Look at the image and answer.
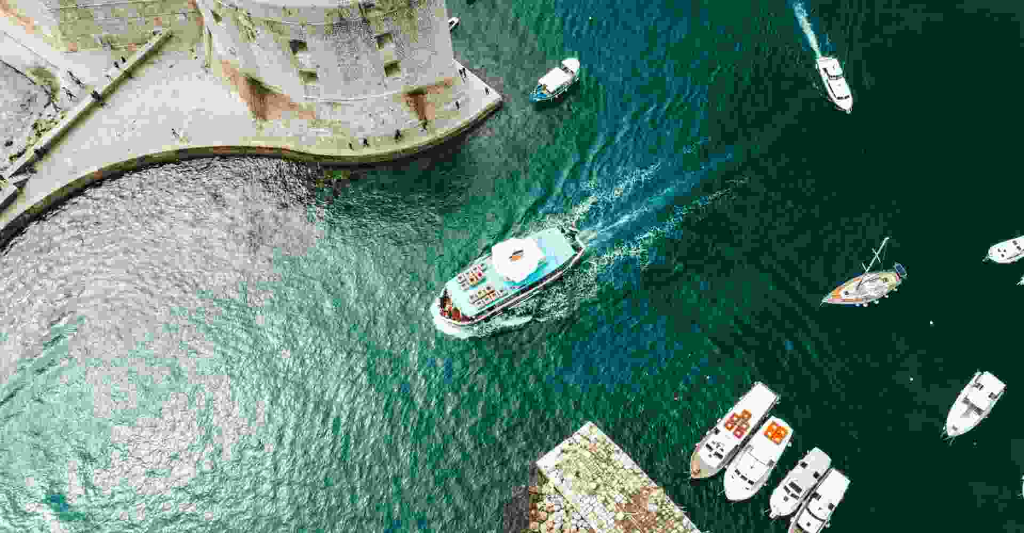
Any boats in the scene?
Yes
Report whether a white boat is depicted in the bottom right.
Yes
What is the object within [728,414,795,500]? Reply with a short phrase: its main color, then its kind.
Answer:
white boat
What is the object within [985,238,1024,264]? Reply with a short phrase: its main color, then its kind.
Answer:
white boat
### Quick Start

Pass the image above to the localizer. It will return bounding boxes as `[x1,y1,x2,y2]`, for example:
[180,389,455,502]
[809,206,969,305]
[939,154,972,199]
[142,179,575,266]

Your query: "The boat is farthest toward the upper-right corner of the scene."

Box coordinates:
[821,54,853,114]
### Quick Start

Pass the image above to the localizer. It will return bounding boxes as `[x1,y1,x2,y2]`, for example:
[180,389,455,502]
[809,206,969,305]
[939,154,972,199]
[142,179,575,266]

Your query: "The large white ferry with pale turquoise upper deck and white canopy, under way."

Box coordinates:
[436,219,594,329]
